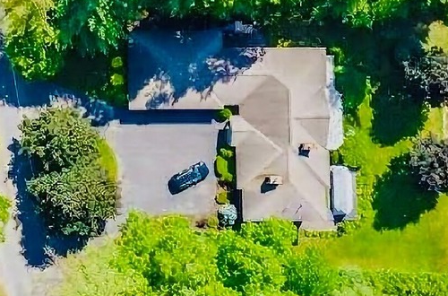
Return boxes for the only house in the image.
[127,28,337,231]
